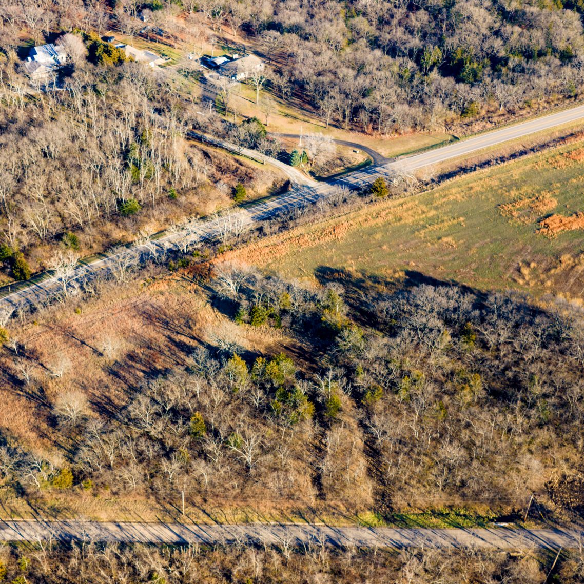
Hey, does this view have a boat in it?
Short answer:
No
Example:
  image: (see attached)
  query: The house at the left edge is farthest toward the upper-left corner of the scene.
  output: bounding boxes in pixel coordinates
[26,43,73,78]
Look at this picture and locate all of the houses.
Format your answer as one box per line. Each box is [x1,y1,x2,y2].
[116,44,169,68]
[213,53,265,78]
[26,43,73,78]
